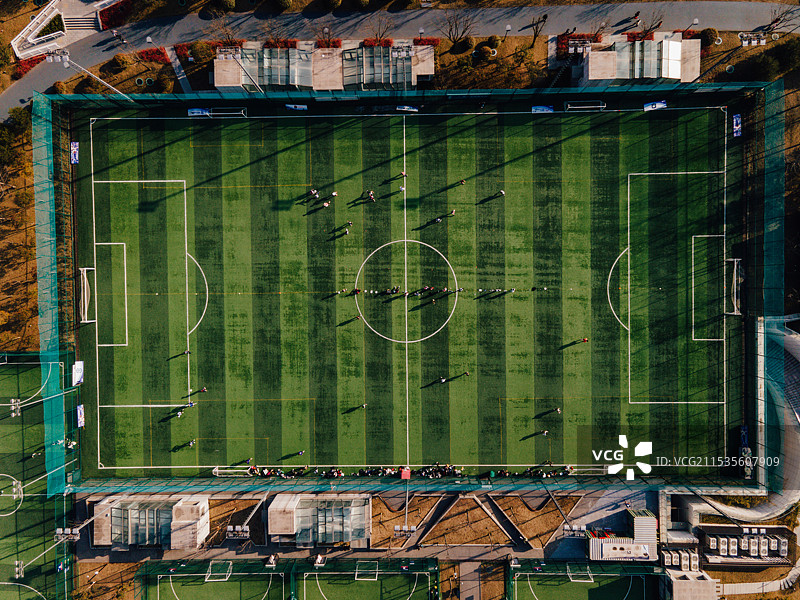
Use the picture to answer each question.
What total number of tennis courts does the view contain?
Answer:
none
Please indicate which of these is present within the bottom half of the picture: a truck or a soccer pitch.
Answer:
soccer pitch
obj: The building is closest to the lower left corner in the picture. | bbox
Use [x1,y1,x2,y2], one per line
[94,495,209,553]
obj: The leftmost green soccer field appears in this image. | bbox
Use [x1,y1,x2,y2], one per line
[0,356,82,600]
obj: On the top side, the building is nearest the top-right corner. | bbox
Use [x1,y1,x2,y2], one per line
[570,39,701,89]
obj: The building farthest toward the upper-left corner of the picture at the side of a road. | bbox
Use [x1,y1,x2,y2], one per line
[207,45,434,96]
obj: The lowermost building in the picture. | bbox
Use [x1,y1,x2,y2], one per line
[662,568,721,600]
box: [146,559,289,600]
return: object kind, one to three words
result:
soccer field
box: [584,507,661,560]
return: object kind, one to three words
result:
building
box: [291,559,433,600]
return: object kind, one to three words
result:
soccer field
